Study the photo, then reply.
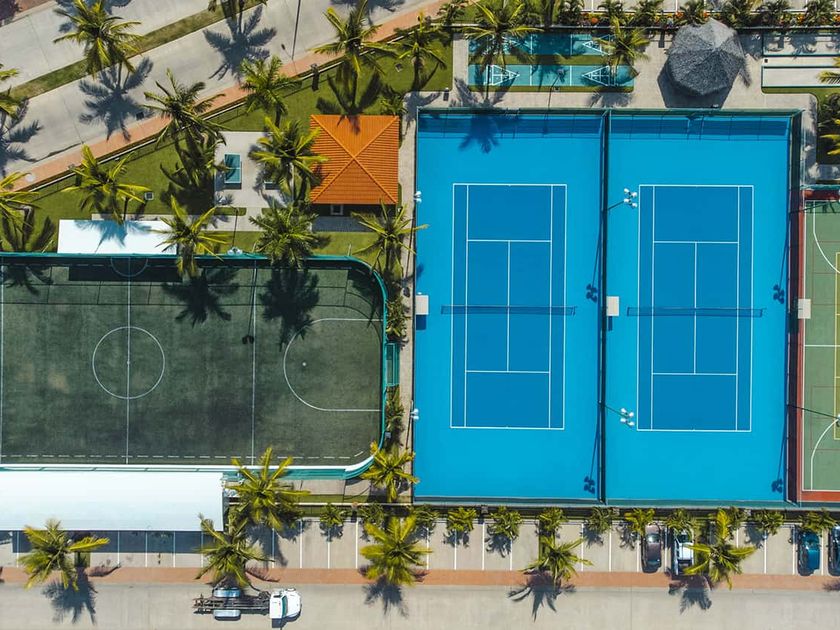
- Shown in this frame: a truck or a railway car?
truck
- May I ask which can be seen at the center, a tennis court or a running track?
tennis court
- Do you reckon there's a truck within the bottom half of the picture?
Yes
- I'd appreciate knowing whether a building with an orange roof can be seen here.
Yes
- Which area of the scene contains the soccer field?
left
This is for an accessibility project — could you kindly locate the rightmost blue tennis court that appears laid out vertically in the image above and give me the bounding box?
[605,116,790,500]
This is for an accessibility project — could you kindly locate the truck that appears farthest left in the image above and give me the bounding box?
[194,586,304,624]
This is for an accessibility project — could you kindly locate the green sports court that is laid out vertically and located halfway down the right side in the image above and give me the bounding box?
[797,190,840,500]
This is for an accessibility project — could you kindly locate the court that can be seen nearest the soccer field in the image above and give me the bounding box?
[413,116,602,498]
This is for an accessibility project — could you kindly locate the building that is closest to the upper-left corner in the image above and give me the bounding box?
[308,113,399,204]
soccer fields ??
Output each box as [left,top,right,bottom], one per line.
[0,258,384,467]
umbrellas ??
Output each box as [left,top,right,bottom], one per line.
[664,15,750,100]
